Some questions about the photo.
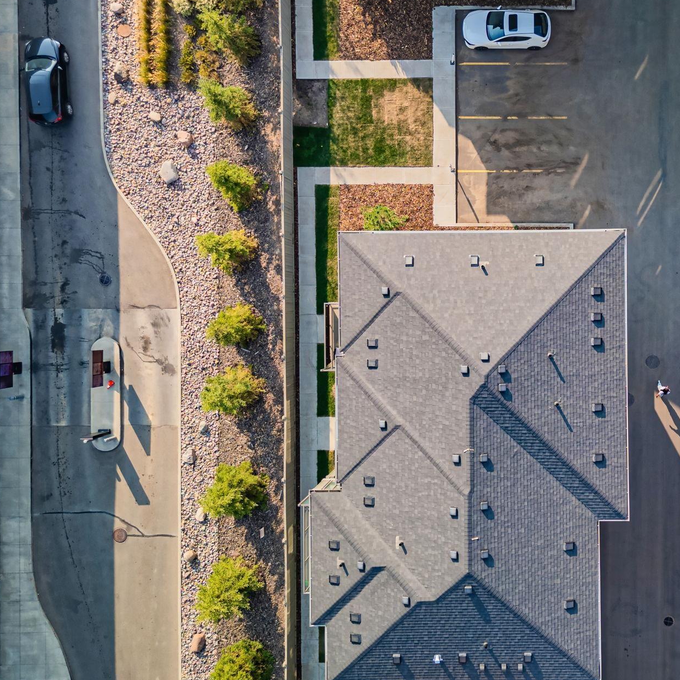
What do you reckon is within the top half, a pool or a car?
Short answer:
car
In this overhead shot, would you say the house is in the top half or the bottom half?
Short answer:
bottom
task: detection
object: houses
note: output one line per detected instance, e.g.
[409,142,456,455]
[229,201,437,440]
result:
[293,226,632,680]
